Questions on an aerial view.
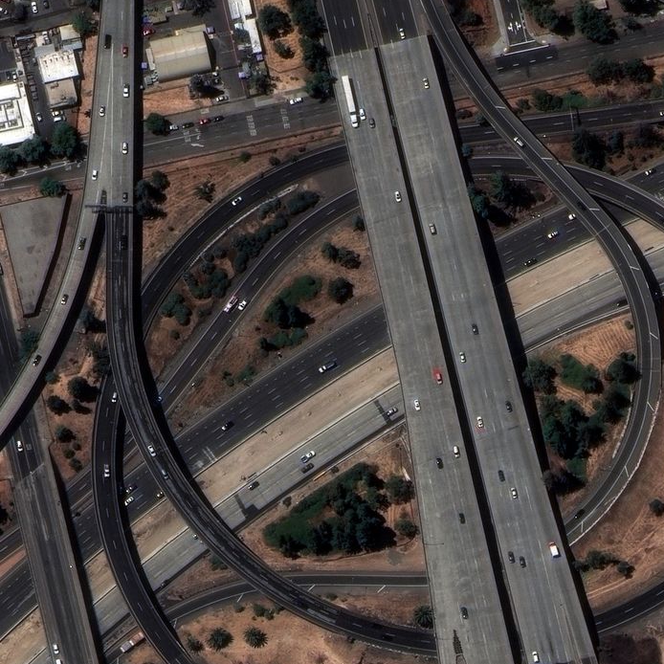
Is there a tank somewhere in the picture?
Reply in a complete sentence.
No, there is no tank in the image.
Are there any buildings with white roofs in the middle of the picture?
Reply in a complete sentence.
No, I see no building with a white roof in the middle of the picture.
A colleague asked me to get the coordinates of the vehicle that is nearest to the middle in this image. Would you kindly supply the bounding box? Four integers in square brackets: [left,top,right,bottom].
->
[317,359,336,373]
